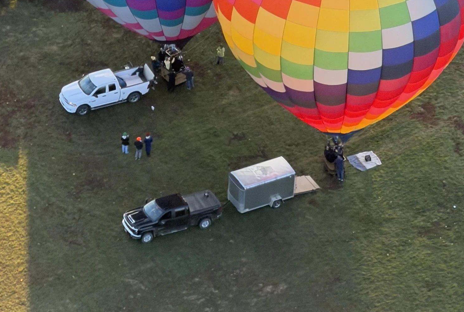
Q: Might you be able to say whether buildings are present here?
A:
No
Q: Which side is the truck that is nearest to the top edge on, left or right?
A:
left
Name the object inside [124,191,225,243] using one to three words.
truck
